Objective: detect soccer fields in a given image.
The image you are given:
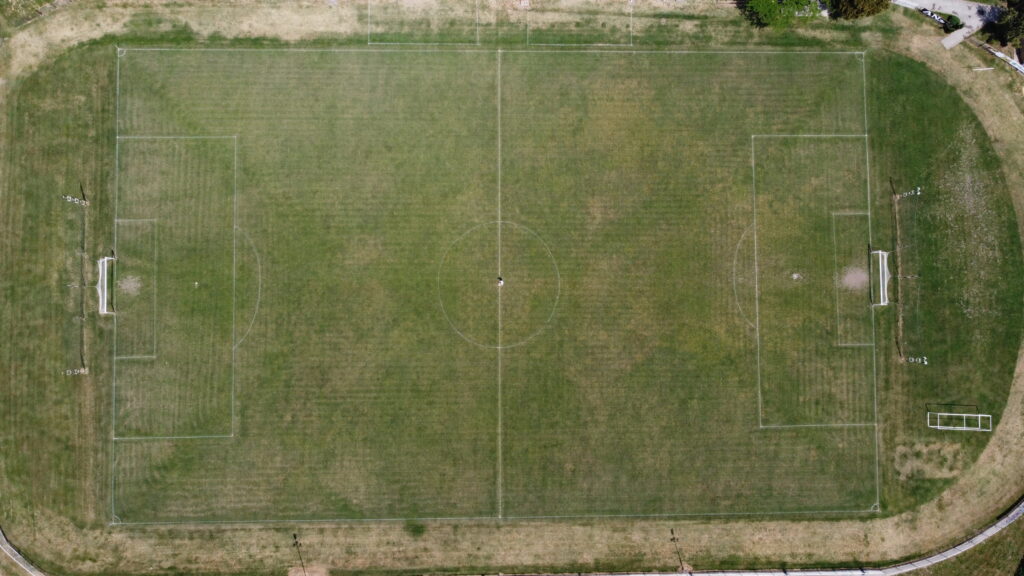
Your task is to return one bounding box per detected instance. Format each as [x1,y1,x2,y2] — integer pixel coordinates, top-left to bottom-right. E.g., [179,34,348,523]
[110,11,881,524]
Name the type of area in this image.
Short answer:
sports ground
